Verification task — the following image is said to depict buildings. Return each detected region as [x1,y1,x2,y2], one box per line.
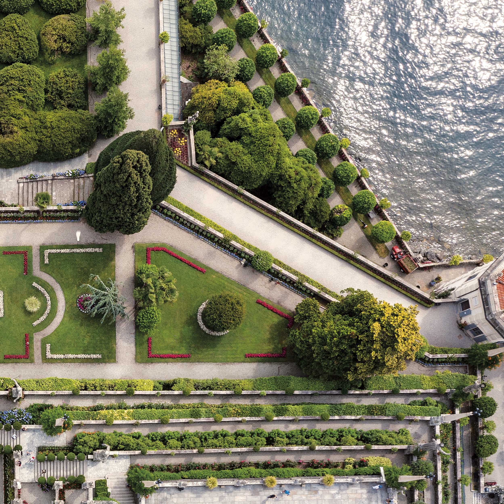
[162,0,182,120]
[440,250,504,353]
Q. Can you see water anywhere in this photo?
Yes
